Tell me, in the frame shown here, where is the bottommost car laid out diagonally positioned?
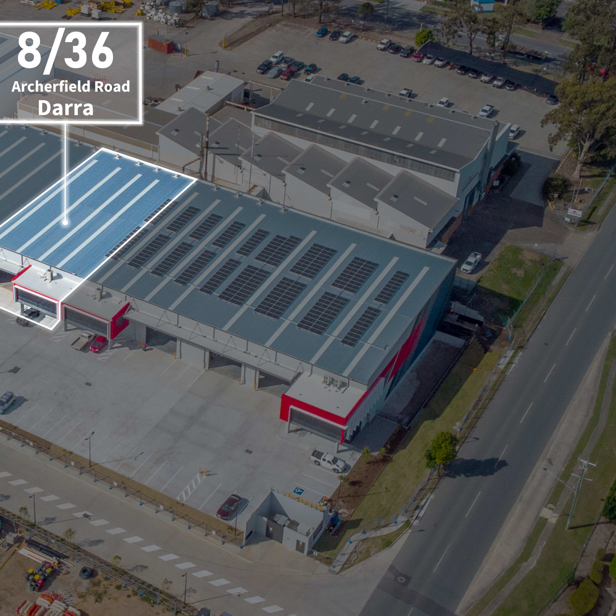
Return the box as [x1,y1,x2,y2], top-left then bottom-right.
[215,492,241,520]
